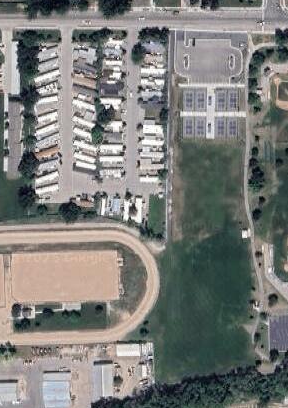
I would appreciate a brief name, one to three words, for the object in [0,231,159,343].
race track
